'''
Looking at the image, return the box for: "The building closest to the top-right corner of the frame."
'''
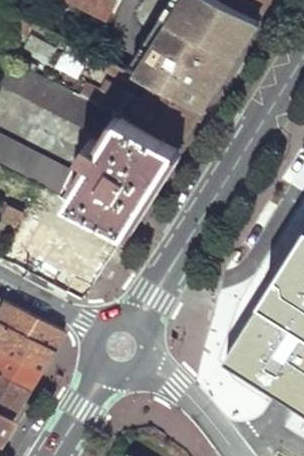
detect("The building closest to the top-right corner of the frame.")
[130,0,266,119]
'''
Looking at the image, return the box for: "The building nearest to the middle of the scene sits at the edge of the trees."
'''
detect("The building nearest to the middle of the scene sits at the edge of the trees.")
[58,122,180,246]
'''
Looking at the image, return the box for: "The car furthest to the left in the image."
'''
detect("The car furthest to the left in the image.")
[28,418,48,433]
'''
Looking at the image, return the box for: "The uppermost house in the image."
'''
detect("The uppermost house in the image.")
[64,0,110,22]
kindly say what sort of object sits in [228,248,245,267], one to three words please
car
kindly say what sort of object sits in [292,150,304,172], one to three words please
vehicle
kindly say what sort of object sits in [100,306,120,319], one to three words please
vehicle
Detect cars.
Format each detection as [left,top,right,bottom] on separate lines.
[100,306,120,319]
[185,172,201,192]
[246,224,264,246]
[28,418,48,433]
[45,430,61,450]
[228,248,245,267]
[292,150,304,172]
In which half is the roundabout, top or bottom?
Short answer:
bottom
